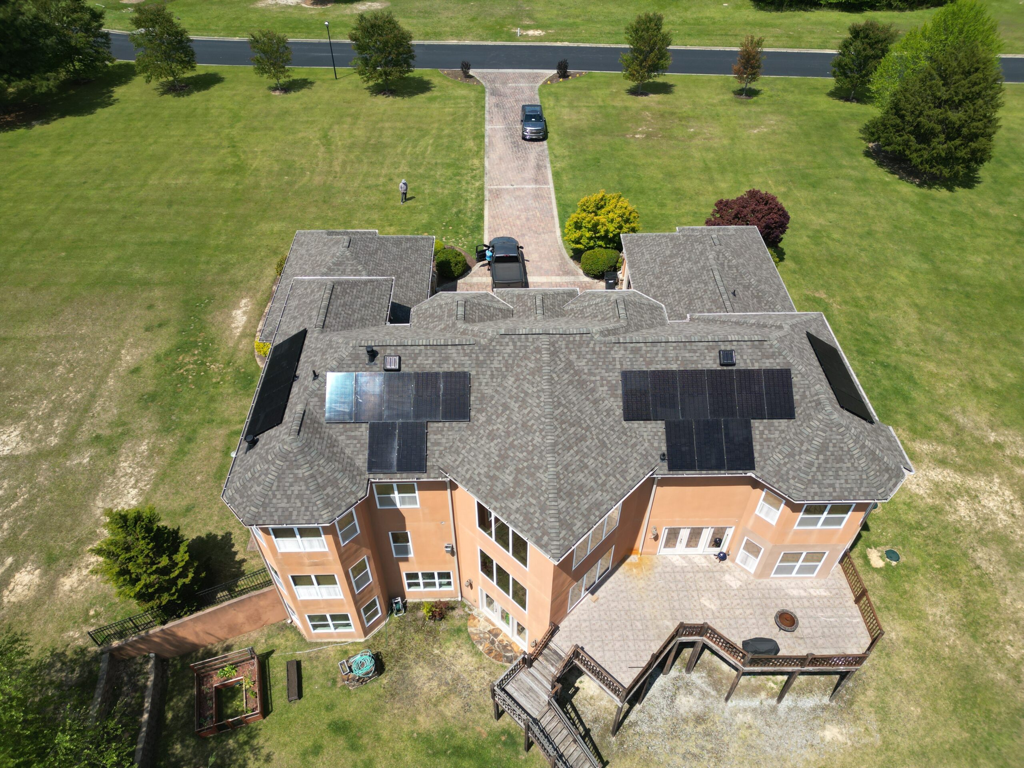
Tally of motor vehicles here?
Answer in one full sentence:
The number of motor vehicles here is 2.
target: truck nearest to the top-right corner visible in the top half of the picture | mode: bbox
[519,93,549,134]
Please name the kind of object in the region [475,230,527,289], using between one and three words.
truck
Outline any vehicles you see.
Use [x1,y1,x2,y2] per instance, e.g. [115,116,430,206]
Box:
[519,93,549,134]
[475,230,527,289]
